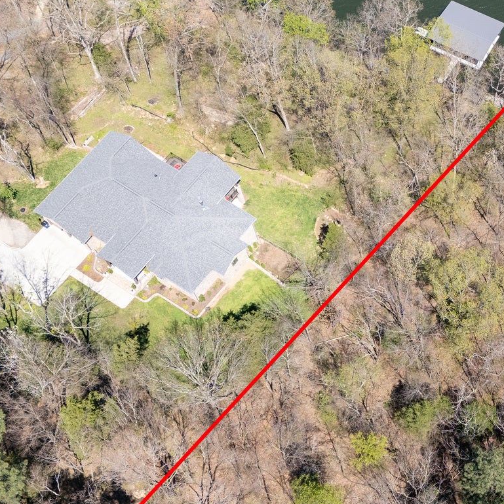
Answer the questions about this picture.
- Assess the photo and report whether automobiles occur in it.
No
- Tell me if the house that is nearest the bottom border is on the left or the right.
left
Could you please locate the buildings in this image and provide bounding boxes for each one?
[427,1,504,87]
[33,132,258,295]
